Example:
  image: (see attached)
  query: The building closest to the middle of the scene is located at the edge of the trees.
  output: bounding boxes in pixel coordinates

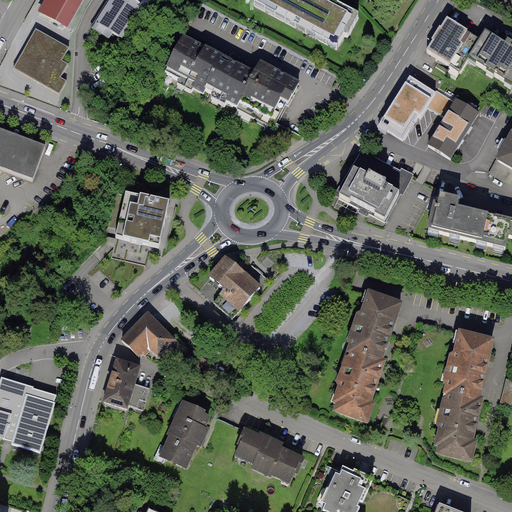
[209,256,257,313]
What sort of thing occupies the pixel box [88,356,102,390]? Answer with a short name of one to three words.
vehicle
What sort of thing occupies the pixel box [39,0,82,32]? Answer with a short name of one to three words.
building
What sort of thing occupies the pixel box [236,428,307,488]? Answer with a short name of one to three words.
house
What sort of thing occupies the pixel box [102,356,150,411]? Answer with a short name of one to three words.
house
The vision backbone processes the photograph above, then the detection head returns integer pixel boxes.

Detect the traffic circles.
[203,166,304,246]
